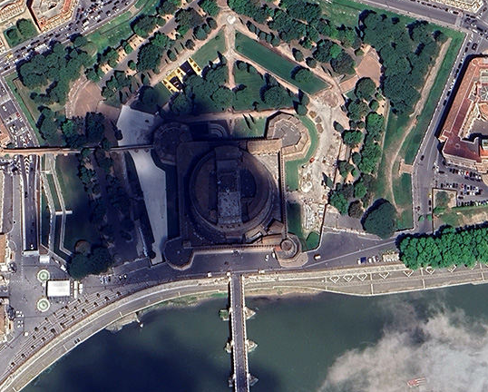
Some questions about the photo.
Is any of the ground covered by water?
Yes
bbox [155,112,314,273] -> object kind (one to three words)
building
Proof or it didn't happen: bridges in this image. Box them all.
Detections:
[224,274,255,392]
